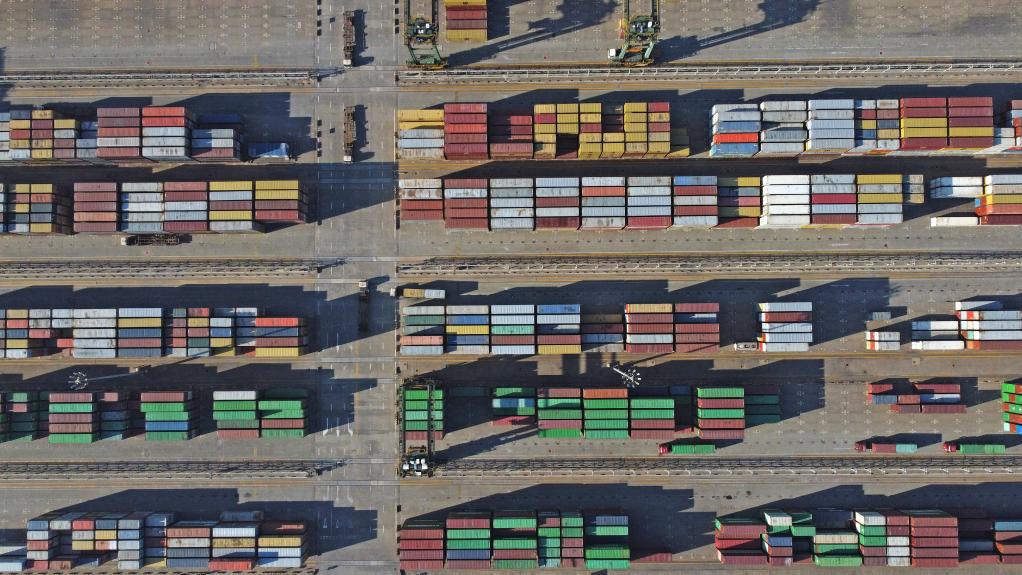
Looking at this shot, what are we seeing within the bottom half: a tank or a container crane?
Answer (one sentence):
The feature located within the bottom half is a container crane.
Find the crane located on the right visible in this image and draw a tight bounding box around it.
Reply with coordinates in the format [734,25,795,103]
[607,0,660,66]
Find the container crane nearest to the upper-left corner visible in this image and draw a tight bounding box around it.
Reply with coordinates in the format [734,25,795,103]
[402,0,449,68]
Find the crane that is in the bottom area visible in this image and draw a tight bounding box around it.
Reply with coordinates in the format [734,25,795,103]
[398,377,446,481]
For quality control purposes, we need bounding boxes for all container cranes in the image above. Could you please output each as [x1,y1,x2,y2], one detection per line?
[402,0,449,68]
[607,0,660,66]
[398,377,446,481]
